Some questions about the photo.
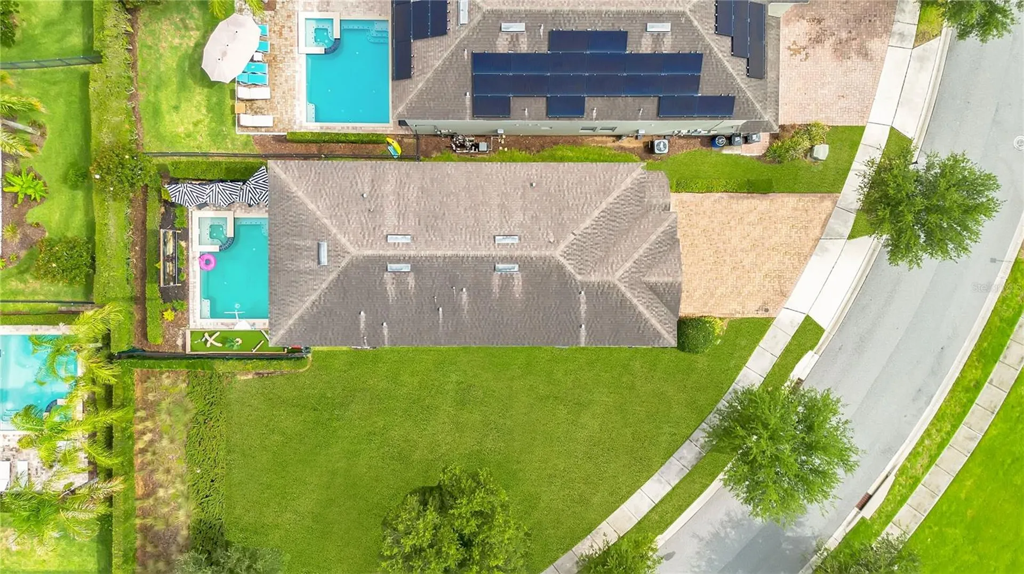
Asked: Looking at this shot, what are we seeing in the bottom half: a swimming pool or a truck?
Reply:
swimming pool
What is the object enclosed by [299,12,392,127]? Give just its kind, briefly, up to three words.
swimming pool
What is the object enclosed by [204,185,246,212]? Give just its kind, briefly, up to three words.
umbrella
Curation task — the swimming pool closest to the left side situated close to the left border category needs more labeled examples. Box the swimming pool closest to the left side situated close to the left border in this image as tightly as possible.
[0,328,87,433]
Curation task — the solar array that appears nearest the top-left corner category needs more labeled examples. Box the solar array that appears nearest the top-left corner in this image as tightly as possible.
[394,0,448,79]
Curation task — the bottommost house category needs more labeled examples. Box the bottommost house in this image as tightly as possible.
[267,160,683,348]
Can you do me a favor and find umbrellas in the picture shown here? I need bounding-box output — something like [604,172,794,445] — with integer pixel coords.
[204,185,246,212]
[167,185,209,211]
[242,175,268,215]
[201,13,262,83]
